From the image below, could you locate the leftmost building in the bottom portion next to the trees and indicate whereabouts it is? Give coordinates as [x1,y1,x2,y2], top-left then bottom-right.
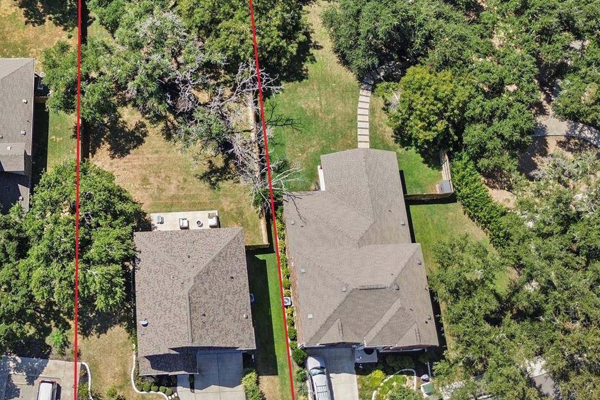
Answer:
[134,229,256,376]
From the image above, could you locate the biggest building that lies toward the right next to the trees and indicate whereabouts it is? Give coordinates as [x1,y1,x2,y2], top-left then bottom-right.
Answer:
[282,148,439,354]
